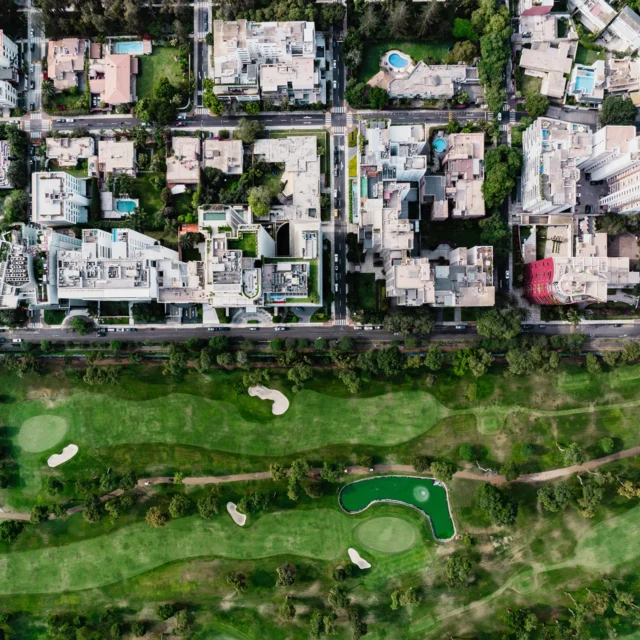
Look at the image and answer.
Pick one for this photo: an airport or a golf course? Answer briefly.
golf course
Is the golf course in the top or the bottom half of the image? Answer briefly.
bottom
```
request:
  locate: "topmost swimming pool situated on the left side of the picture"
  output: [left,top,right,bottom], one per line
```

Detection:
[116,40,144,53]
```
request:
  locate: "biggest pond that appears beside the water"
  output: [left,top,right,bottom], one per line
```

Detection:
[338,475,455,542]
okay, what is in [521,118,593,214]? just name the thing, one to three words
building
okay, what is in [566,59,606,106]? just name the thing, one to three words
house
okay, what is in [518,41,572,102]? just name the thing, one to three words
house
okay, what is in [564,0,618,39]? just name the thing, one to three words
building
